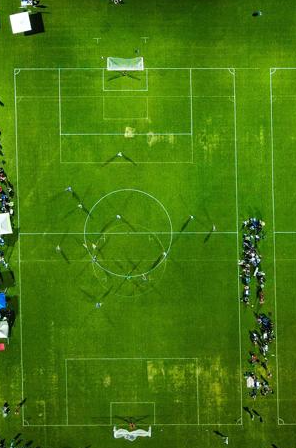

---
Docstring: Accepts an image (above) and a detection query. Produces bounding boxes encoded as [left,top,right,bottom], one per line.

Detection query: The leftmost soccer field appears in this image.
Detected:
[15,68,242,426]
